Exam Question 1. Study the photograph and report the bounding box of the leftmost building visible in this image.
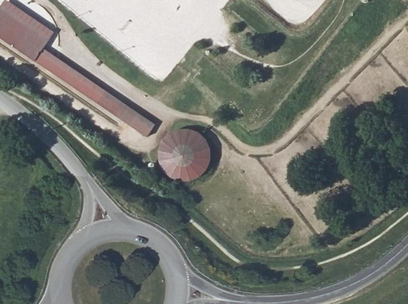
[0,0,54,60]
